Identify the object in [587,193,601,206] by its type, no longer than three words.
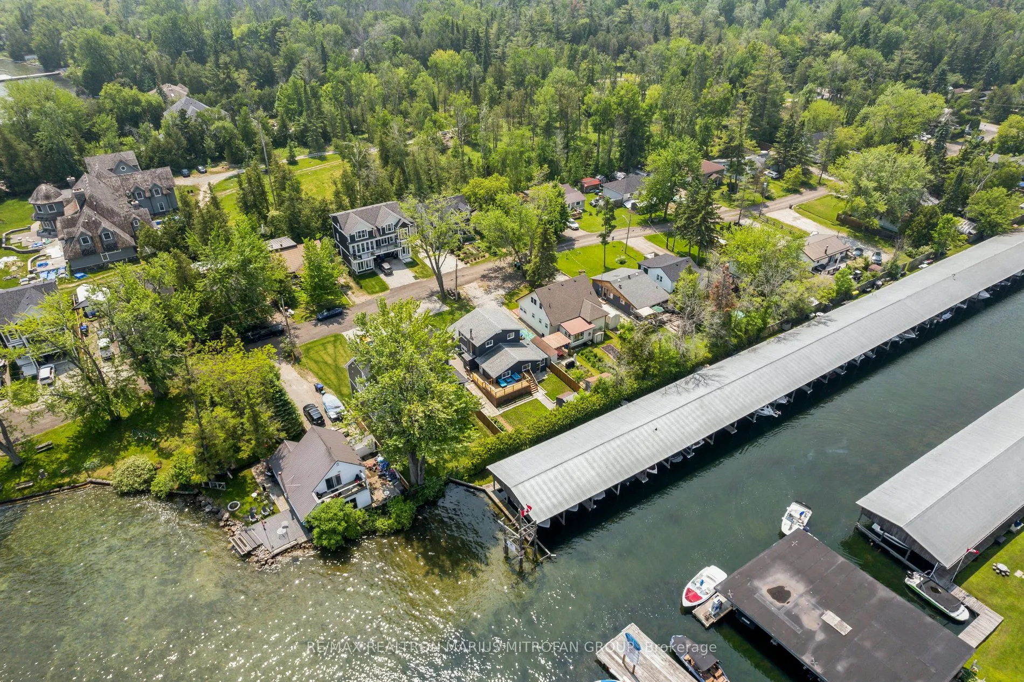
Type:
vehicle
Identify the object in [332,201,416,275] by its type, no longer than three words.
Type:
house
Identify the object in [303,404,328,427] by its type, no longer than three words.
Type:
car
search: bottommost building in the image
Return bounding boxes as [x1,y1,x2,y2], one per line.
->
[711,527,972,682]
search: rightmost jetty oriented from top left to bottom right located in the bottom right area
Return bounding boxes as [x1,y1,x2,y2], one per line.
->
[934,579,986,616]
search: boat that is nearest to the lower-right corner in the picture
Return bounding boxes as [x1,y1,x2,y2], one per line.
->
[902,569,969,626]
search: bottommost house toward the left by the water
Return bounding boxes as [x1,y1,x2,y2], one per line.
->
[268,424,372,523]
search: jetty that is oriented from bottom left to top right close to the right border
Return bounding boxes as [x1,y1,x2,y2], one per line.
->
[956,607,1004,651]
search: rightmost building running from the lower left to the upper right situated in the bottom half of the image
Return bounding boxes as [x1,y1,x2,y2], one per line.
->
[843,387,1024,585]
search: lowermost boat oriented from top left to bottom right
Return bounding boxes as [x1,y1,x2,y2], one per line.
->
[674,636,726,682]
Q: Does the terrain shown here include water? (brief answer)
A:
Yes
